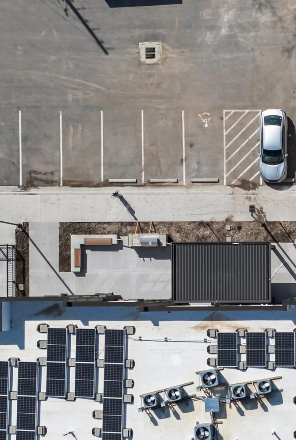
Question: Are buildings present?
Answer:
Yes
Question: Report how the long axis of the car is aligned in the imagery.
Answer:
from top to bottom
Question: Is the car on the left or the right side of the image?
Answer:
right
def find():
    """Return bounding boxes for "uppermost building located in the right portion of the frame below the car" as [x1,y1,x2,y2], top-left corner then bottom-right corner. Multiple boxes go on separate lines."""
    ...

[172,243,273,303]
